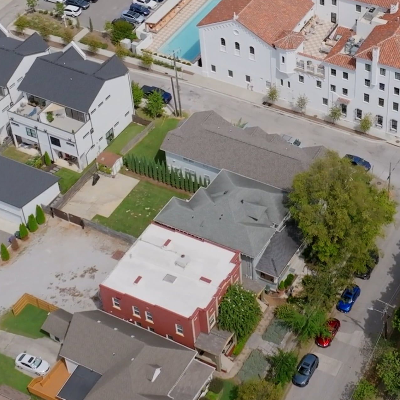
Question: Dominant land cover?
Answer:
buildings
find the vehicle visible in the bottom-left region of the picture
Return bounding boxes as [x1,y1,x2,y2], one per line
[11,353,50,378]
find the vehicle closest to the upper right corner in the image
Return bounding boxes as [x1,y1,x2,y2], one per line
[342,154,374,173]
